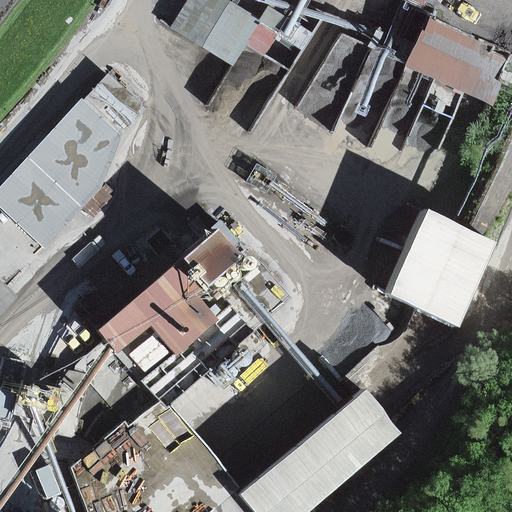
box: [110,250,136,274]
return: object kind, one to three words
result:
truck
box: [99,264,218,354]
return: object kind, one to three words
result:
building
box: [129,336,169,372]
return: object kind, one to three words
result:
house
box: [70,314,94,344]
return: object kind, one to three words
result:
work vehicle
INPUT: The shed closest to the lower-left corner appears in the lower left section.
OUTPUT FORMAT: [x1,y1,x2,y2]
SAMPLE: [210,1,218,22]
[36,464,62,499]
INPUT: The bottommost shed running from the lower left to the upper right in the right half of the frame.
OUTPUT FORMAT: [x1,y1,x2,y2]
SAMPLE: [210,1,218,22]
[240,387,400,512]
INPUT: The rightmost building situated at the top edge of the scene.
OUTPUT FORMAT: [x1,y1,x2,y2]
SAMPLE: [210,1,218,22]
[404,16,508,106]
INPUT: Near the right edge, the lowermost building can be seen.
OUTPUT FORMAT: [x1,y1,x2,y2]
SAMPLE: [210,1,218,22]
[388,209,496,326]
